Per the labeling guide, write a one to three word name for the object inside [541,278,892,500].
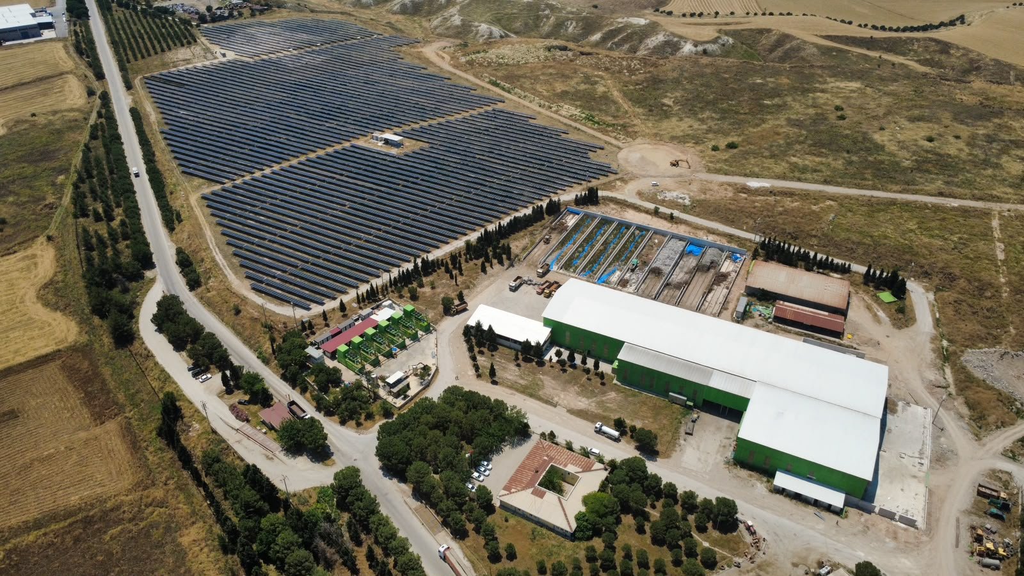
building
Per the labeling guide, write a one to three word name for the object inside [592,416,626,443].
truck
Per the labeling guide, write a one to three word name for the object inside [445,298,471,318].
vehicle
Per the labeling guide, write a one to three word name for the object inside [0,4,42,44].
building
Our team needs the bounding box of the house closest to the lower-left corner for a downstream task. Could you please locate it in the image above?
[258,401,297,433]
